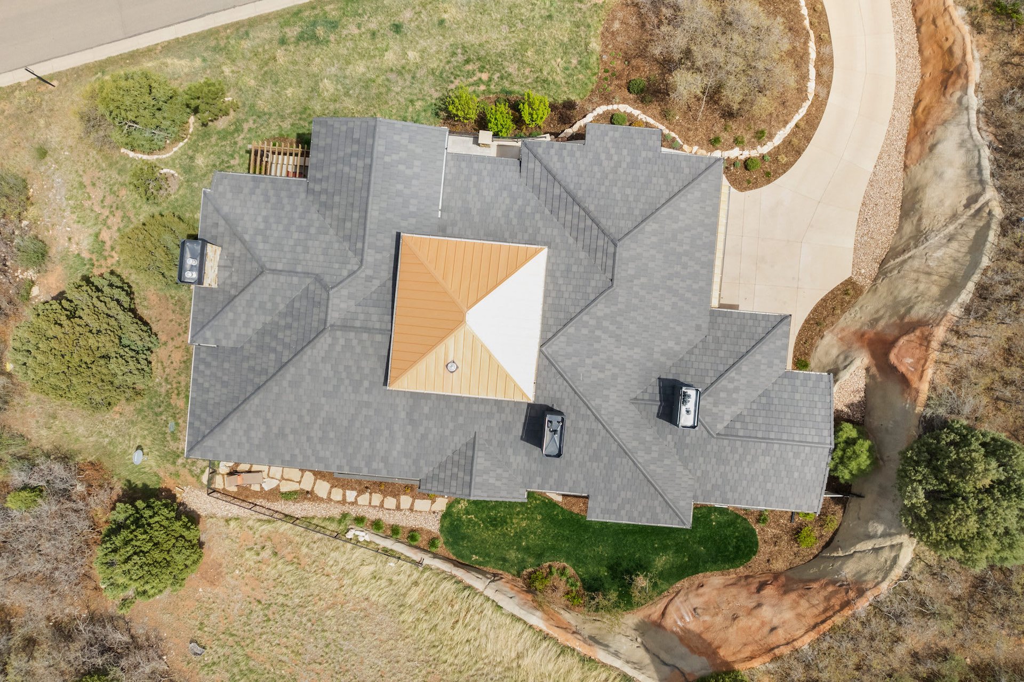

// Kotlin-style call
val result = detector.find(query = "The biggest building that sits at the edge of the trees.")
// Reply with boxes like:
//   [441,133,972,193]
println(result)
[178,117,835,530]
